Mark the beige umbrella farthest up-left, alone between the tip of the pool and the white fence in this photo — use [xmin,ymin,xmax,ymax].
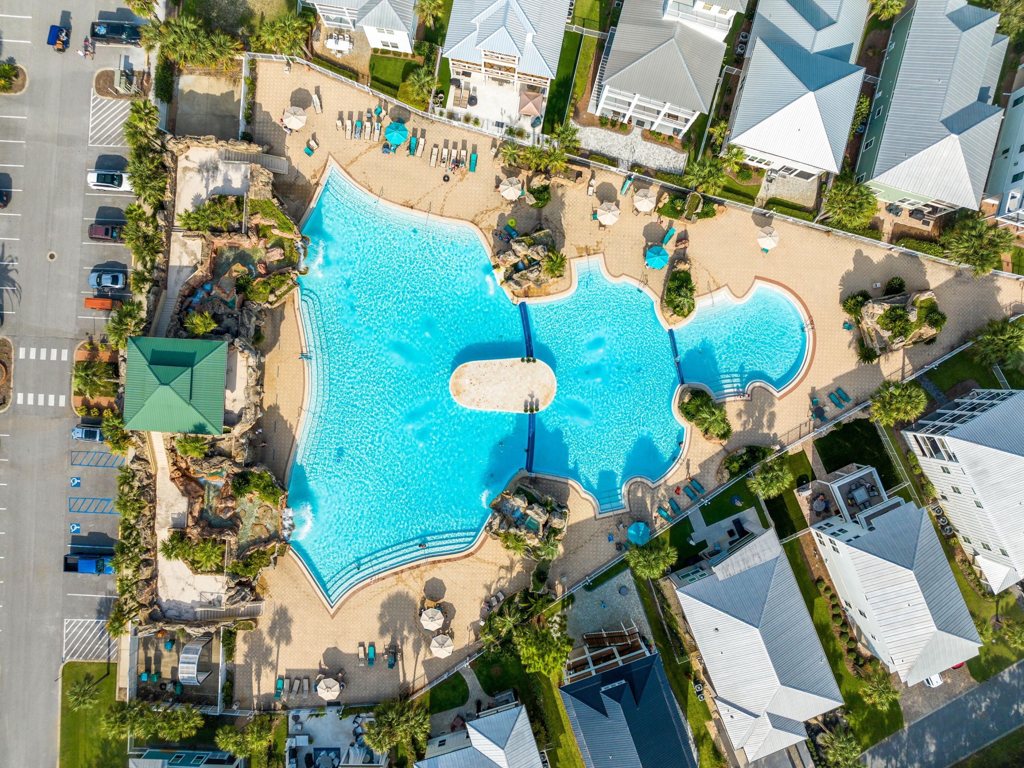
[284,107,308,131]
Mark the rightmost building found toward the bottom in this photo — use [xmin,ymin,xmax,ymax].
[901,383,1024,592]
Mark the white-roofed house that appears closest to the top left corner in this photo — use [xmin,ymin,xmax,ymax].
[306,0,421,53]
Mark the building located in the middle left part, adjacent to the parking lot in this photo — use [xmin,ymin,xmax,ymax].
[123,336,239,436]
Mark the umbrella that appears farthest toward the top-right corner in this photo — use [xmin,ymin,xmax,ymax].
[755,227,778,250]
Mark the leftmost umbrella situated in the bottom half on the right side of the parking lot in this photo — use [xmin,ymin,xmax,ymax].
[318,676,341,700]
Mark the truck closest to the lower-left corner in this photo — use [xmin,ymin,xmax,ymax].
[63,551,115,575]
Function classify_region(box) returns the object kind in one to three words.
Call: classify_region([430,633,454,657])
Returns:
umbrella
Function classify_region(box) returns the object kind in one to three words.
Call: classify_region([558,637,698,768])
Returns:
house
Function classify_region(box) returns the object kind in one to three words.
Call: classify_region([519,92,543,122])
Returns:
tent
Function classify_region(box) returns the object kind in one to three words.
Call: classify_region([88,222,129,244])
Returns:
car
